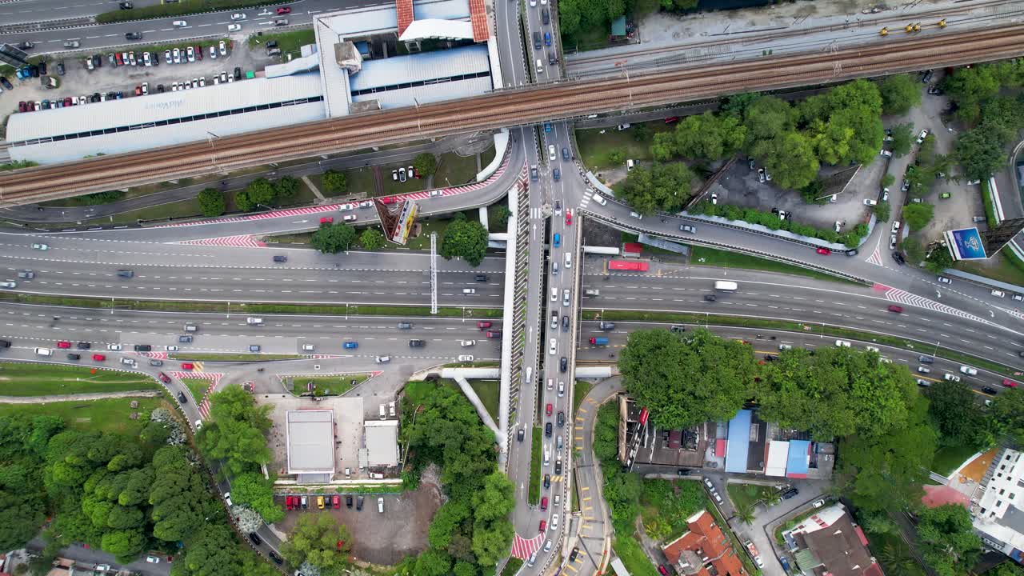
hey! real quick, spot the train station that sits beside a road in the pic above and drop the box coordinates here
[0,0,504,168]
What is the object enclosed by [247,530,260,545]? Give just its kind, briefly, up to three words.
vehicle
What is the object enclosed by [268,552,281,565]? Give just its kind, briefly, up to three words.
vehicle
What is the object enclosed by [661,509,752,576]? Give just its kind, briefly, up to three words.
house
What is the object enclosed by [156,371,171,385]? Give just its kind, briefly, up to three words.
car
